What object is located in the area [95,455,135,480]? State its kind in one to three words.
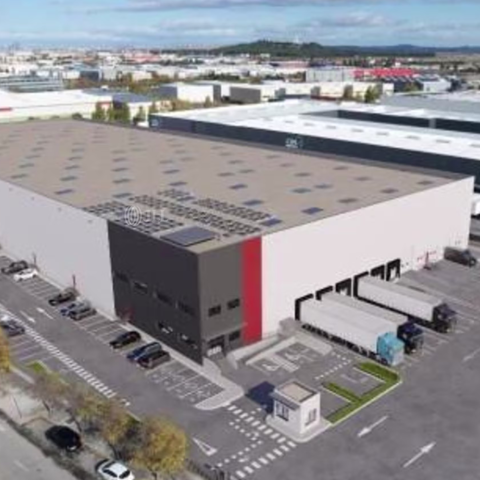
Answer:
car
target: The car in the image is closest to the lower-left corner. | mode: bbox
[44,420,82,454]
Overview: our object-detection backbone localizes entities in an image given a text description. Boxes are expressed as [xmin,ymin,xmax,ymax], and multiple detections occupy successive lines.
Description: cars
[110,327,142,347]
[44,420,82,454]
[138,344,171,368]
[69,300,99,318]
[0,318,29,336]
[50,287,78,303]
[62,297,87,312]
[2,261,28,274]
[128,341,158,359]
[15,266,38,279]
[95,455,135,480]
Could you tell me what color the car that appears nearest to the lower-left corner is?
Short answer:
black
